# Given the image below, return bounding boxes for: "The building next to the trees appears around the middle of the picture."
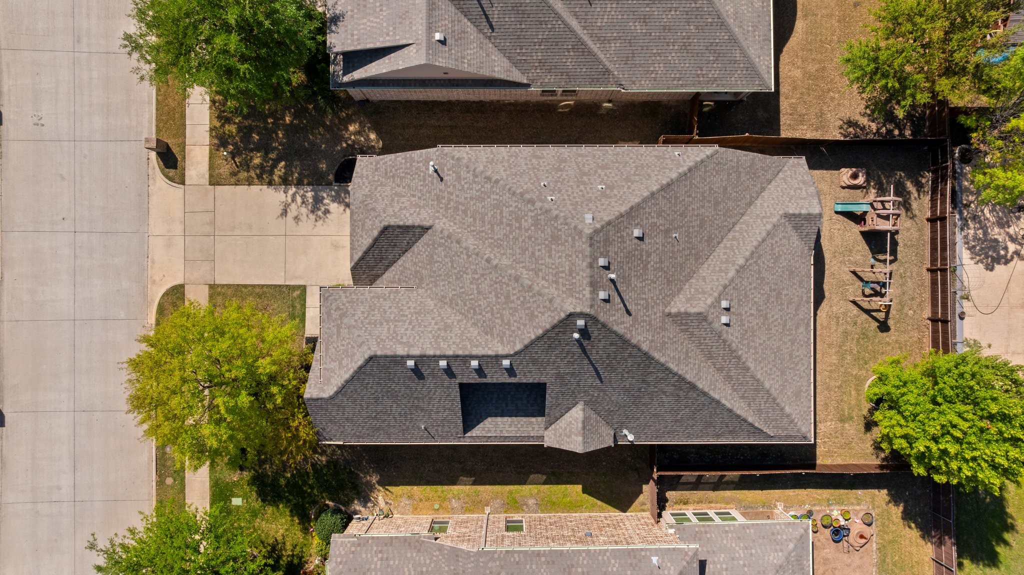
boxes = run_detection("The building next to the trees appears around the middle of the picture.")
[304,144,822,453]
